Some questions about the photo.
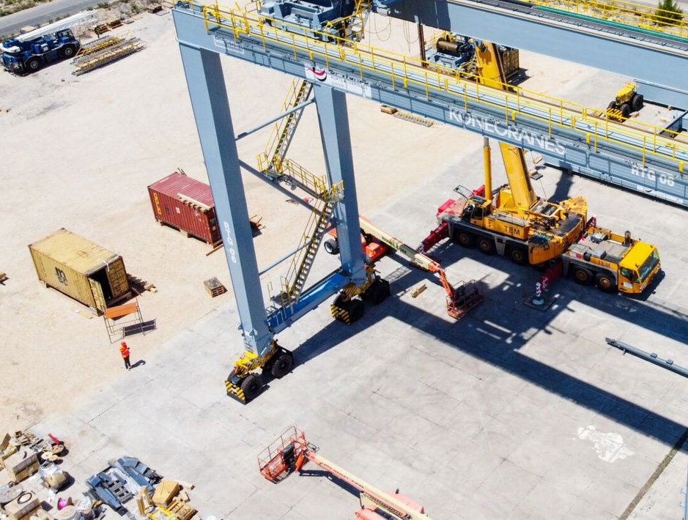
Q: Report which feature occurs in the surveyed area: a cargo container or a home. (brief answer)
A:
cargo container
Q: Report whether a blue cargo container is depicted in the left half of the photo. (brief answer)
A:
No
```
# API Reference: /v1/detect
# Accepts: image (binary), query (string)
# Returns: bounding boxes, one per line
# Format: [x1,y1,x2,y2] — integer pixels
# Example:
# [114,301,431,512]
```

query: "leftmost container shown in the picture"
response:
[30,228,131,315]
